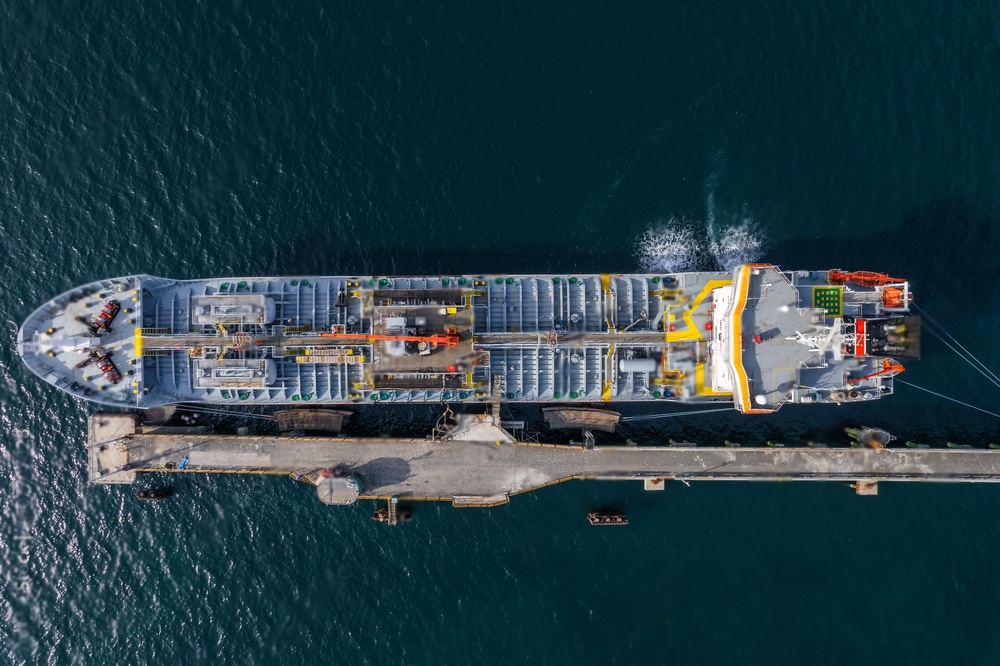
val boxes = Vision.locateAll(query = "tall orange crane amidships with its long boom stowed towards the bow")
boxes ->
[316,327,460,349]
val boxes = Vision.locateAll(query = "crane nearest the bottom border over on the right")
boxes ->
[843,358,901,384]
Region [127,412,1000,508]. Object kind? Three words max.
pier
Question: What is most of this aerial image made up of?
water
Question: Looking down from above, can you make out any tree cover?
No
